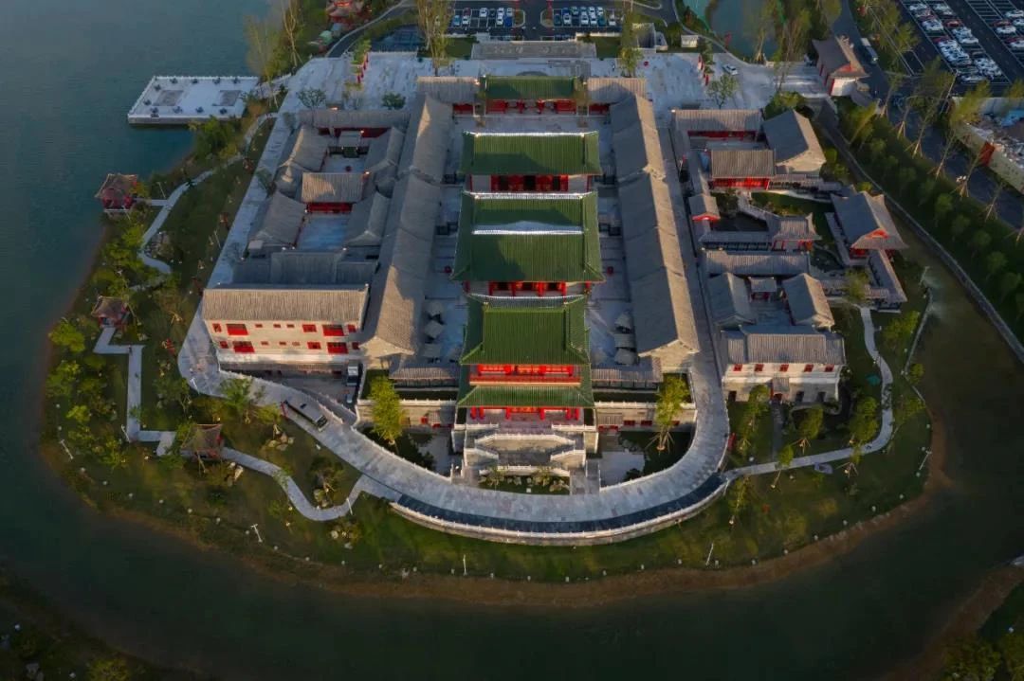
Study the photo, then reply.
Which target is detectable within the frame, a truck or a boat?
truck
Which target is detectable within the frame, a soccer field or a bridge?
bridge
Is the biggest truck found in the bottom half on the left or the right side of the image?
left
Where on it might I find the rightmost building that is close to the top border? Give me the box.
[810,27,871,99]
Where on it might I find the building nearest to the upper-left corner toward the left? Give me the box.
[88,170,153,223]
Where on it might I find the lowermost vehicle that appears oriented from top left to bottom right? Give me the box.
[283,399,332,439]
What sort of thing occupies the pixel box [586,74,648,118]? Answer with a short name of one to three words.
building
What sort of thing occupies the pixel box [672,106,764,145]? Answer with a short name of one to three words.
house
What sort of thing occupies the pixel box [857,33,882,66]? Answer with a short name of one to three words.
bus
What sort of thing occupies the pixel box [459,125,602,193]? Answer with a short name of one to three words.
building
